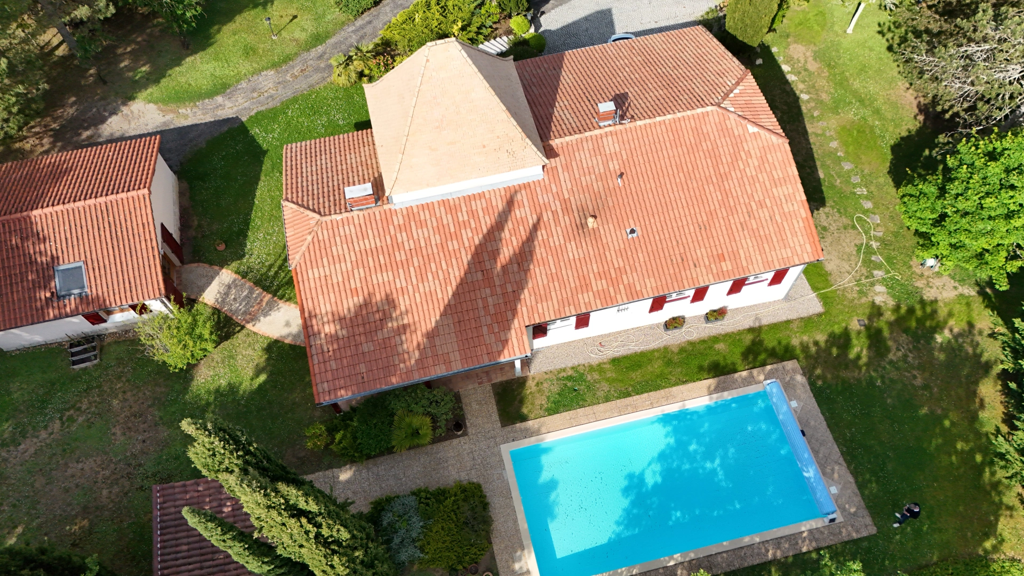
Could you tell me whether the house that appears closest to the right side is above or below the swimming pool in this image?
above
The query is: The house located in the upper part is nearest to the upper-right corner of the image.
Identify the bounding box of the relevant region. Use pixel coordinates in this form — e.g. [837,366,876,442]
[280,25,824,407]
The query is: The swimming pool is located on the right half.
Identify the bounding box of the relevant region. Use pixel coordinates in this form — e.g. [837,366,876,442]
[501,383,840,576]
